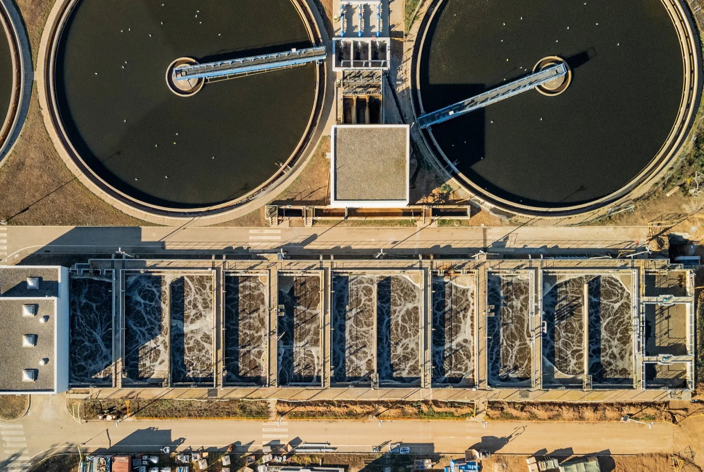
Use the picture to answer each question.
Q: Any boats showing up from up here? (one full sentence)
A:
No, I find no boat anywhere in the image.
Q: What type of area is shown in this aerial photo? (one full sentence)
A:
It's an industrial area.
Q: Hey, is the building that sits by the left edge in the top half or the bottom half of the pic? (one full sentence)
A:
You can find the building that sits by the left edge in the bottom half.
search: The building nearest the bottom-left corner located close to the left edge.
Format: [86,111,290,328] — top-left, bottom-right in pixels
[0,265,70,401]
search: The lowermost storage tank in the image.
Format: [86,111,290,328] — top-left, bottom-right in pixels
[68,252,698,400]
